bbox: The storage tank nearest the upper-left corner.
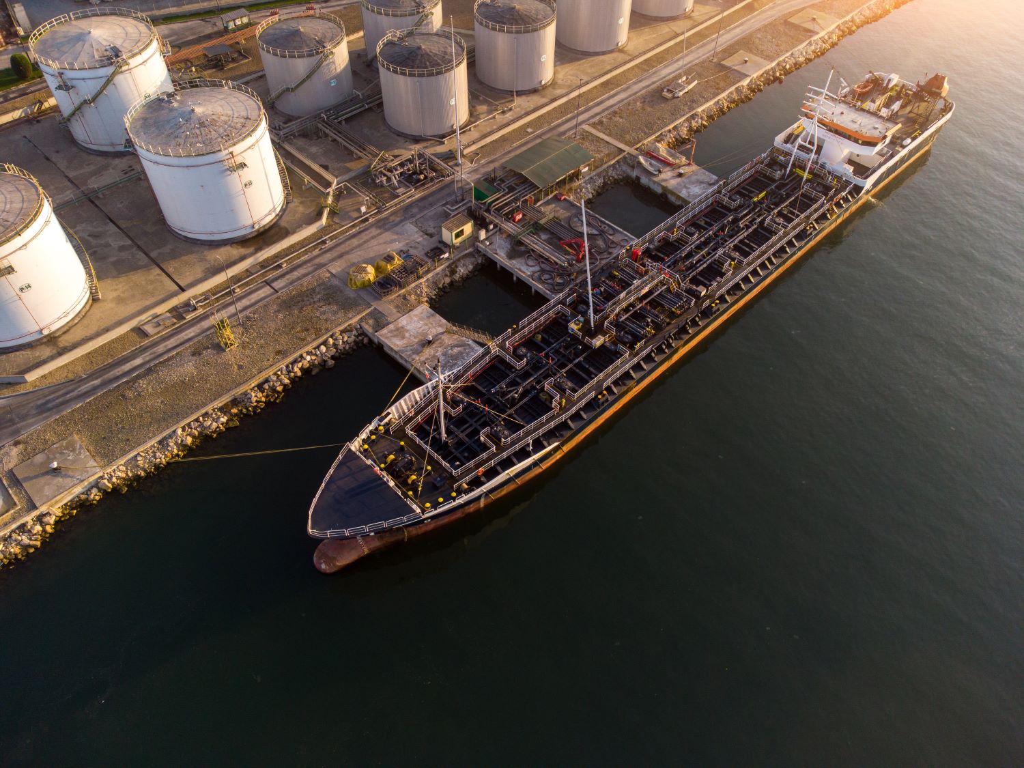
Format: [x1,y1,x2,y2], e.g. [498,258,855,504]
[27,2,174,153]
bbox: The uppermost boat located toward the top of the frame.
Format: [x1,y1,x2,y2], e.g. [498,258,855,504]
[659,28,699,100]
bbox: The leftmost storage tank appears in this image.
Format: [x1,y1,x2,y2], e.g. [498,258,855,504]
[0,163,95,353]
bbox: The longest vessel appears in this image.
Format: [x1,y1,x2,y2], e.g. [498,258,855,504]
[306,56,960,577]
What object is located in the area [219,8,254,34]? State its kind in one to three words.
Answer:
shed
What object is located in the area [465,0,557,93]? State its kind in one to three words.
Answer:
storage tank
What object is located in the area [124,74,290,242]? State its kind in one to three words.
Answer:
storage tank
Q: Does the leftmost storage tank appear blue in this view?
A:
No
